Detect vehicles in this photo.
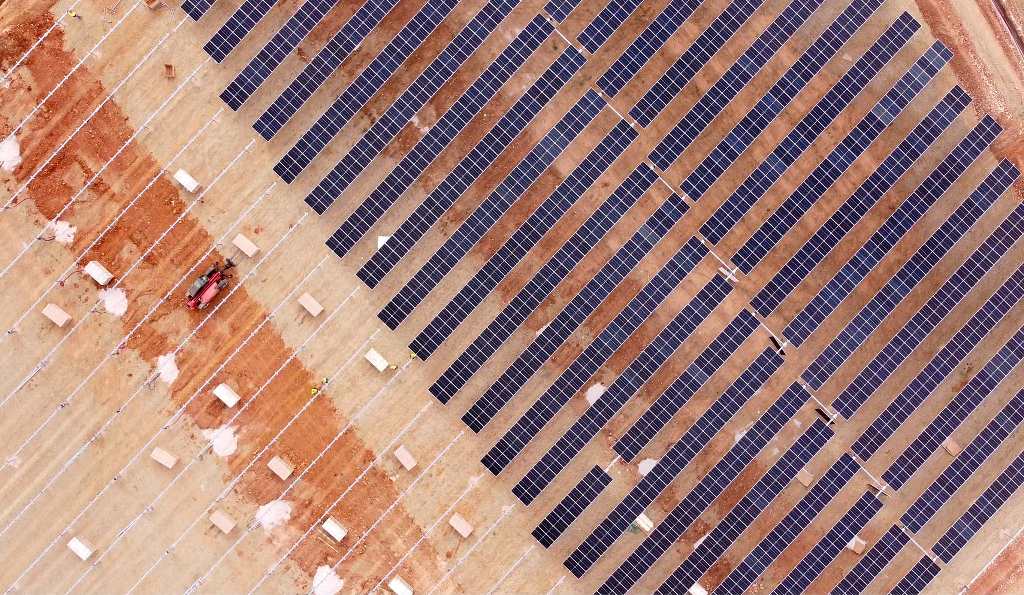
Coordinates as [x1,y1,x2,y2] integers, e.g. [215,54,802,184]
[183,251,244,310]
